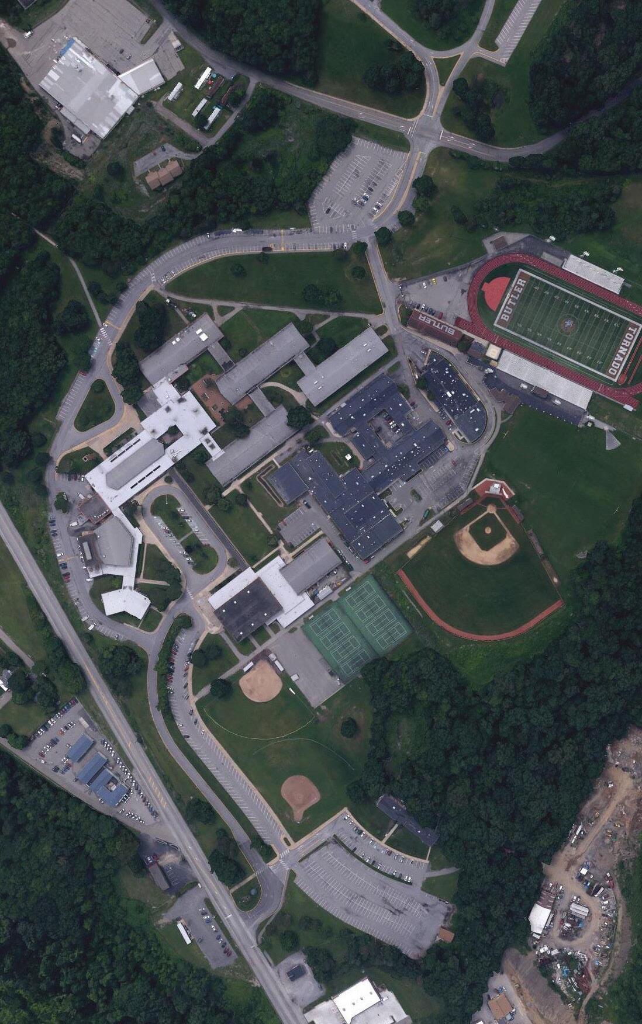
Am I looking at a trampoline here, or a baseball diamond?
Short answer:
baseball diamond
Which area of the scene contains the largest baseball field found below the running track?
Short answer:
right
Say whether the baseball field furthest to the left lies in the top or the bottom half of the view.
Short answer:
bottom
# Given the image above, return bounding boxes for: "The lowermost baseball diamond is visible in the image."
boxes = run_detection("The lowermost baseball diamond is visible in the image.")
[281,775,321,823]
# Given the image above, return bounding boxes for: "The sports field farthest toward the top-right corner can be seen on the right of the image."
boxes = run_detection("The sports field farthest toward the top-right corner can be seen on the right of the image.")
[480,264,642,386]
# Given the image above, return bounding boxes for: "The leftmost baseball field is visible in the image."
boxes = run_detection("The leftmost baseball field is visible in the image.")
[239,659,283,702]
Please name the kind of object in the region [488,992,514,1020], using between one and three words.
house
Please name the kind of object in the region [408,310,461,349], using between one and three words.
building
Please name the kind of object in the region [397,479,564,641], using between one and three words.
baseball field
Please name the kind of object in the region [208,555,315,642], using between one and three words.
building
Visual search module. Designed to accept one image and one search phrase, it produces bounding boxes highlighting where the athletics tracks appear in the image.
[454,253,642,409]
